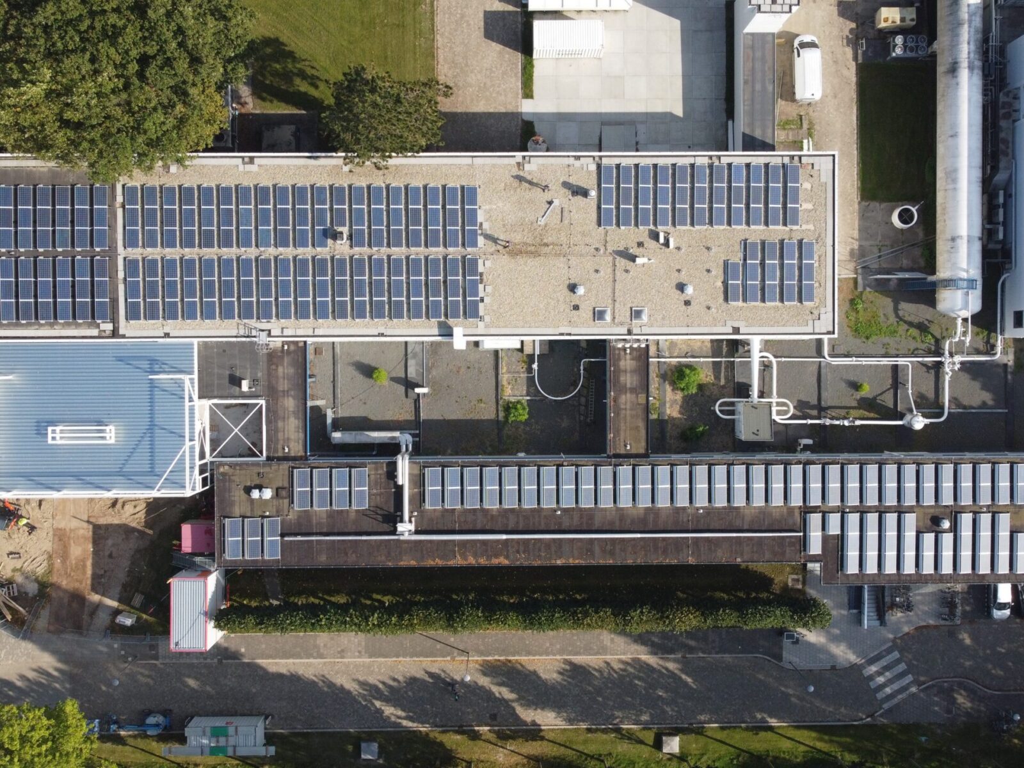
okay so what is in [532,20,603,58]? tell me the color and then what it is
white shipping container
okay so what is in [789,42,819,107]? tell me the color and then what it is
white van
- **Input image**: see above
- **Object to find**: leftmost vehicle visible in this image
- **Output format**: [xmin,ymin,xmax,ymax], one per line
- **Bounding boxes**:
[0,500,21,531]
